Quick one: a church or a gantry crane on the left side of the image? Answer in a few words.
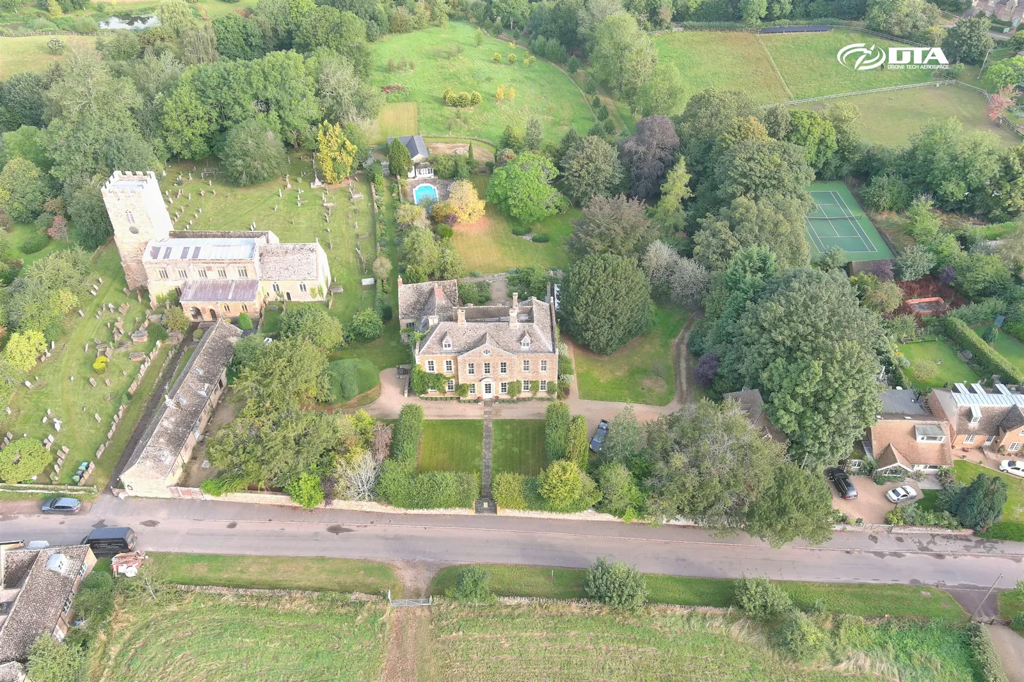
church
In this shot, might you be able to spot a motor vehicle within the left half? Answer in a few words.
Yes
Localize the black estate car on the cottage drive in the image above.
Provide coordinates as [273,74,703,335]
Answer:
[828,468,861,499]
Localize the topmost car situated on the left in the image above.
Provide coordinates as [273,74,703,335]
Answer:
[39,497,81,515]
